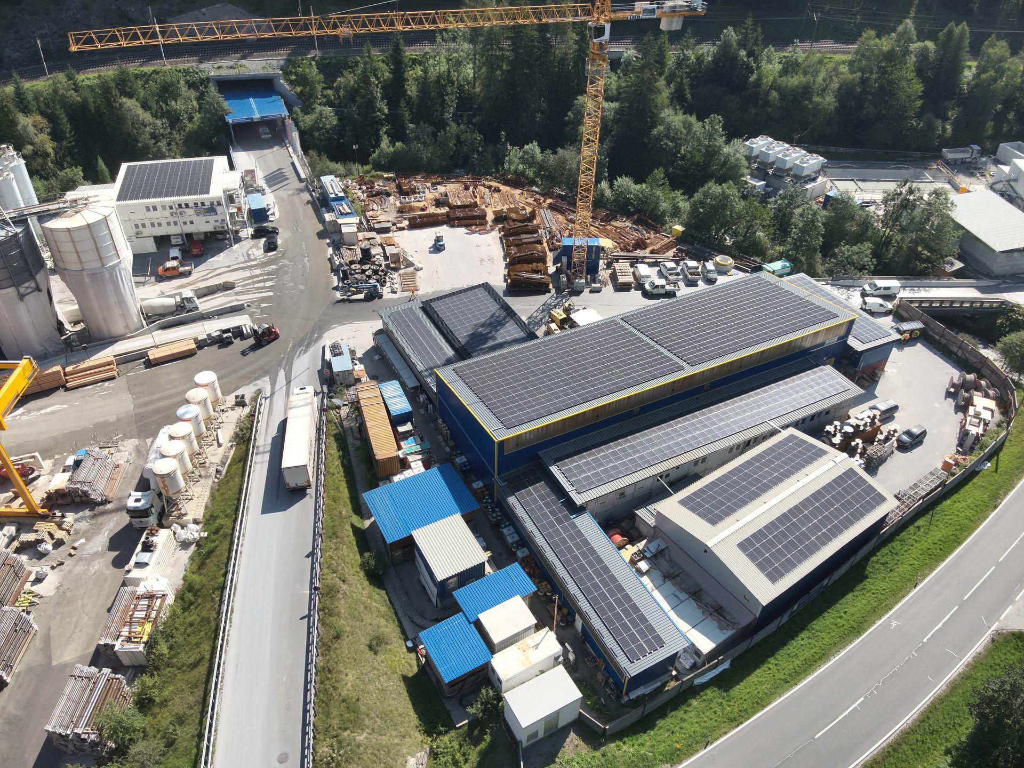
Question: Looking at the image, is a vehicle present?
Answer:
Yes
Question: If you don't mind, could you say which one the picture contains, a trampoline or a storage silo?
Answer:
storage silo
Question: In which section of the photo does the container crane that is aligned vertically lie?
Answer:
left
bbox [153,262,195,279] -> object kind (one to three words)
vehicle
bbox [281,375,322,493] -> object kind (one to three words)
truck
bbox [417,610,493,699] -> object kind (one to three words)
shed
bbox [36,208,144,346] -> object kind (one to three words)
silo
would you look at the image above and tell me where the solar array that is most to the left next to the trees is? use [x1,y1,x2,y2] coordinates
[118,158,212,200]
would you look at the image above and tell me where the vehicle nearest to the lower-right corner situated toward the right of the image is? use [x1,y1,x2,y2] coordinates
[894,419,937,449]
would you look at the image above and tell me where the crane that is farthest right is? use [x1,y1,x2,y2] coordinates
[63,0,721,283]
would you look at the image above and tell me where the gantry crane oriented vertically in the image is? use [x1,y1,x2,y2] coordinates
[0,353,66,520]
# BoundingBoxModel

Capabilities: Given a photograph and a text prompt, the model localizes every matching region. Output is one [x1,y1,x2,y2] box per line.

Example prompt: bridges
[868,273,1024,311]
